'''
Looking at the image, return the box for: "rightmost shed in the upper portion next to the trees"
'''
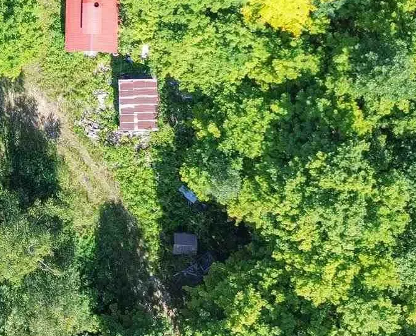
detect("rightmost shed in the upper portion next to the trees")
[117,78,159,132]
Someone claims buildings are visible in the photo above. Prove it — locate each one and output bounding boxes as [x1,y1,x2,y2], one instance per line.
[172,228,198,254]
[65,0,118,57]
[117,78,159,132]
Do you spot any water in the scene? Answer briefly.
No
